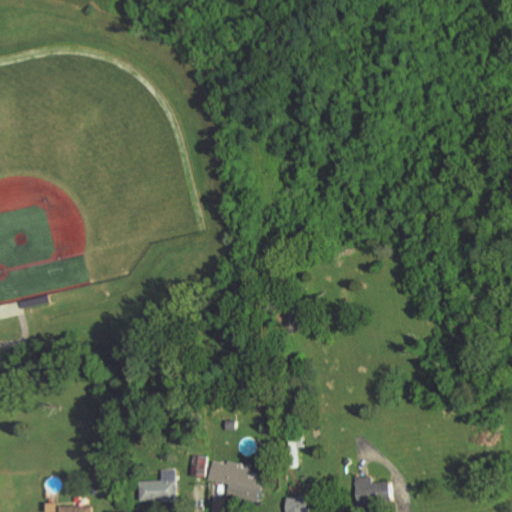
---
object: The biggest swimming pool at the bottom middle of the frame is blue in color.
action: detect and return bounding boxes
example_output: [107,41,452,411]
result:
[239,436,258,456]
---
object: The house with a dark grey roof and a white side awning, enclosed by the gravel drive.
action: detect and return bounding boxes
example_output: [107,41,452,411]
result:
[354,476,395,502]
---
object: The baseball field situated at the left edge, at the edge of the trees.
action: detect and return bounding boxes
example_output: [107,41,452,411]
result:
[0,46,204,304]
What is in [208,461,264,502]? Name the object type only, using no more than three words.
house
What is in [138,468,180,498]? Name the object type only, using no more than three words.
house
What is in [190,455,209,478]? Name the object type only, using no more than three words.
shed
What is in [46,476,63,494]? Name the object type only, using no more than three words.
swimming pool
